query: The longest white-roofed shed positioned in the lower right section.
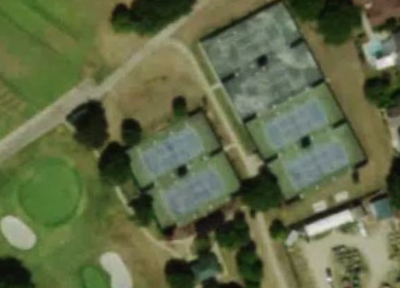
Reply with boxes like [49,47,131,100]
[305,209,353,236]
